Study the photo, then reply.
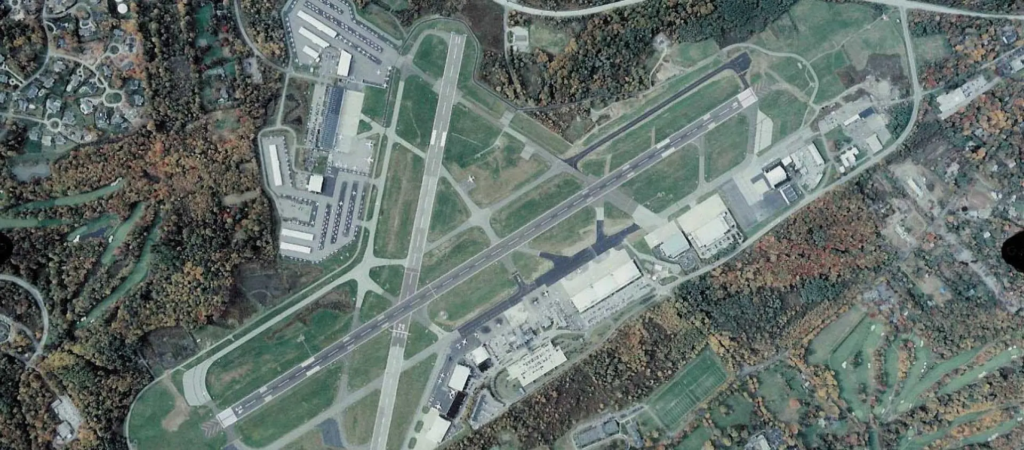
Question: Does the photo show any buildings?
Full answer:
Yes, the frame does contain a building.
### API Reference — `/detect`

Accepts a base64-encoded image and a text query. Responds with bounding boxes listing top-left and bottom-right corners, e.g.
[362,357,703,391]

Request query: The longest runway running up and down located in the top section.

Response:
[425,33,466,175]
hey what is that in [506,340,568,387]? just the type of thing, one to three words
building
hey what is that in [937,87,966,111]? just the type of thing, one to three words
building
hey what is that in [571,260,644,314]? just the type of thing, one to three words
hangar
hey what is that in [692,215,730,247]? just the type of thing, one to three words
hangar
